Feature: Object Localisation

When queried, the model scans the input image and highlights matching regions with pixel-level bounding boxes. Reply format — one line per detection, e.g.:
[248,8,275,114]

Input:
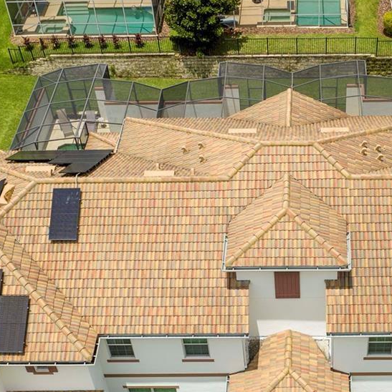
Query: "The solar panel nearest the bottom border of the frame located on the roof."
[0,296,28,352]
